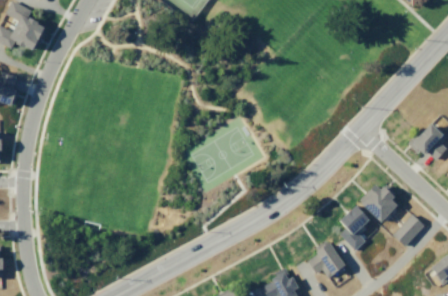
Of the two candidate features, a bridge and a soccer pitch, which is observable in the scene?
soccer pitch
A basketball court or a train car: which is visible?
basketball court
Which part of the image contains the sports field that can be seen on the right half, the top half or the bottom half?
top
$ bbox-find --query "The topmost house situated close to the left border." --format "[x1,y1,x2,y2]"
[0,1,45,50]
